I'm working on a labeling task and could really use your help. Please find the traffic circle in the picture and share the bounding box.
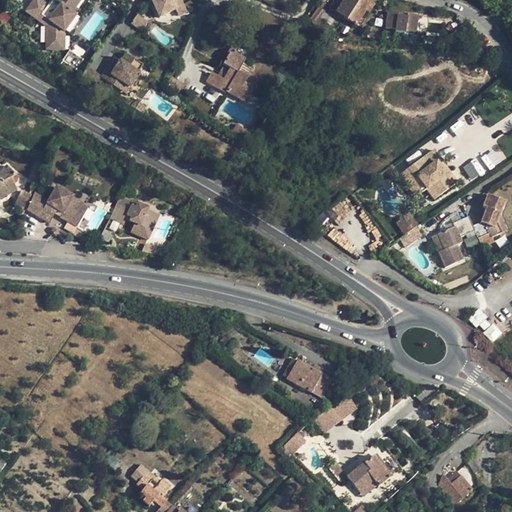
[374,296,472,396]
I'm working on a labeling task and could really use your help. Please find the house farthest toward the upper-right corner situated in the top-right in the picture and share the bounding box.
[386,11,420,30]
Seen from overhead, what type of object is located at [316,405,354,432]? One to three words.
shed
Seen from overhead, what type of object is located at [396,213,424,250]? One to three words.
building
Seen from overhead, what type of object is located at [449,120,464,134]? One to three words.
vehicle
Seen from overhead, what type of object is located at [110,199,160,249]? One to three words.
house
